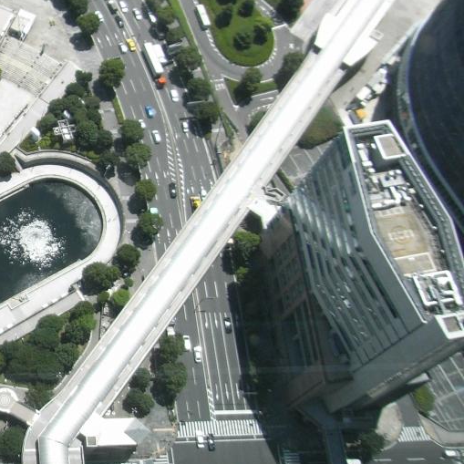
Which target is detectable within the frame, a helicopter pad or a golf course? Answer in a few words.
helicopter pad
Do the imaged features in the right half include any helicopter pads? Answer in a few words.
Yes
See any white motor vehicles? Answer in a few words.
Yes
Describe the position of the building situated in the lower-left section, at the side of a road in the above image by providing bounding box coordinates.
[79,414,146,450]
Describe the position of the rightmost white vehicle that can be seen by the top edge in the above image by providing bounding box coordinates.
[194,1,213,33]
